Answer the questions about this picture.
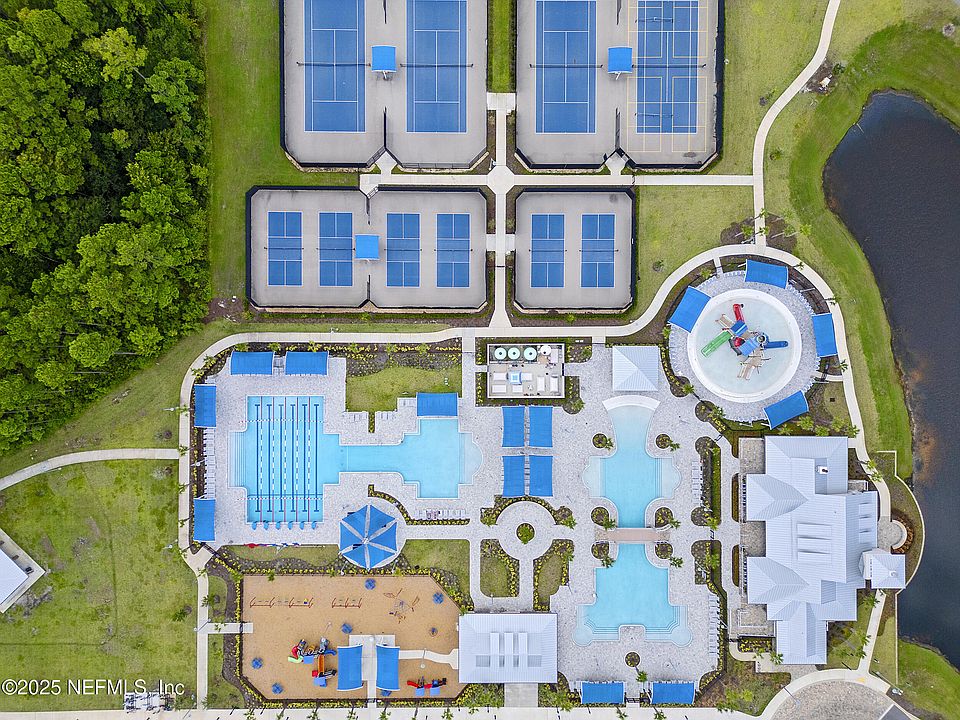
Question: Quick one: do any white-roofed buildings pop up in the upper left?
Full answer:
No, no white-roofed building is visible in the upper left.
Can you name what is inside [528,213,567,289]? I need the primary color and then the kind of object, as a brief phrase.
blue sports court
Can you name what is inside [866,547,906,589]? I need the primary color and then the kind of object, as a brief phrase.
white gazebo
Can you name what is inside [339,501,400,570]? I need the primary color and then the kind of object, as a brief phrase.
blue umbrella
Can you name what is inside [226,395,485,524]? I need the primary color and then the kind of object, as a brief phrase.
blue swimming pool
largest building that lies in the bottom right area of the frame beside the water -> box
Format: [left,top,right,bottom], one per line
[742,436,878,664]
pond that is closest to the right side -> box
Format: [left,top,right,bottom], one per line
[819,93,960,673]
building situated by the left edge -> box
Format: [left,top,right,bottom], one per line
[0,548,29,607]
